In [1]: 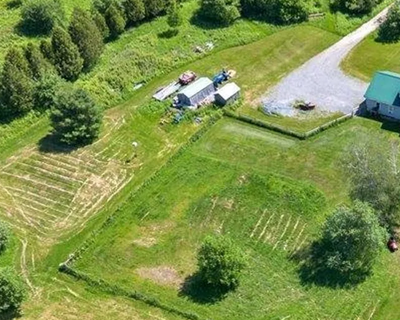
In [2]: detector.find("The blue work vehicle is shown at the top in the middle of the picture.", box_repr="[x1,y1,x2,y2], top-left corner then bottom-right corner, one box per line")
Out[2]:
[215,71,234,84]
